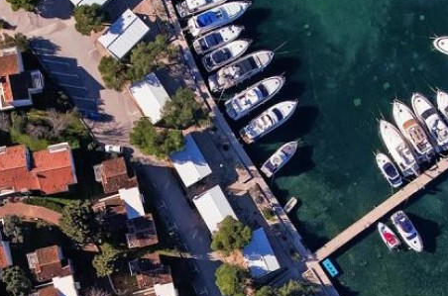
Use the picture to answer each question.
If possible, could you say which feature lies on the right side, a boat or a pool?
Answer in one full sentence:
Looking on the right side, you will find a boat.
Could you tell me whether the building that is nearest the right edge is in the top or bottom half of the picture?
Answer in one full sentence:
You can find the building that is nearest the right edge in the bottom half.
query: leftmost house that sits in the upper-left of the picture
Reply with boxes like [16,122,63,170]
[0,48,46,113]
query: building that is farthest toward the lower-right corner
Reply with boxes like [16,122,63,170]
[243,228,279,277]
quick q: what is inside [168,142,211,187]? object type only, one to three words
building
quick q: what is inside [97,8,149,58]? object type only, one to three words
building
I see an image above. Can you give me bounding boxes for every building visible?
[0,142,77,197]
[0,48,46,113]
[0,219,13,272]
[168,142,211,187]
[130,72,168,125]
[97,8,149,58]
[193,185,233,233]
[129,254,176,296]
[243,228,279,277]
[27,245,82,296]
[93,157,158,248]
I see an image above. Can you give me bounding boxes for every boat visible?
[377,223,399,250]
[223,71,294,122]
[200,39,251,72]
[205,51,273,92]
[189,26,244,55]
[259,140,297,179]
[431,86,448,121]
[380,120,418,180]
[175,0,219,19]
[377,154,403,192]
[389,208,433,261]
[185,0,251,39]
[236,99,298,144]
[393,95,434,164]
[413,92,448,154]
[283,197,295,212]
